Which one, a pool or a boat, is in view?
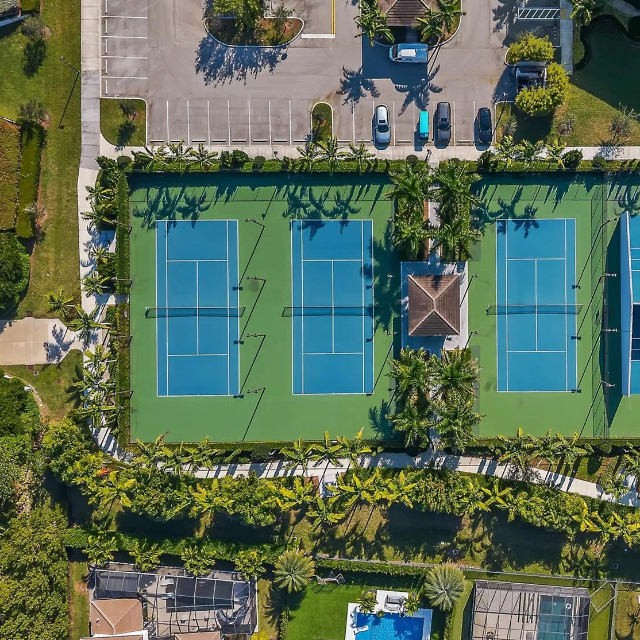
pool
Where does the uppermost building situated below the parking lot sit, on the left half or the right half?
right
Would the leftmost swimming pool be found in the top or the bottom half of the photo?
bottom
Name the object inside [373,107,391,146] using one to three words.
car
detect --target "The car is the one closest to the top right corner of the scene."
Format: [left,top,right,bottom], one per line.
[476,108,493,146]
